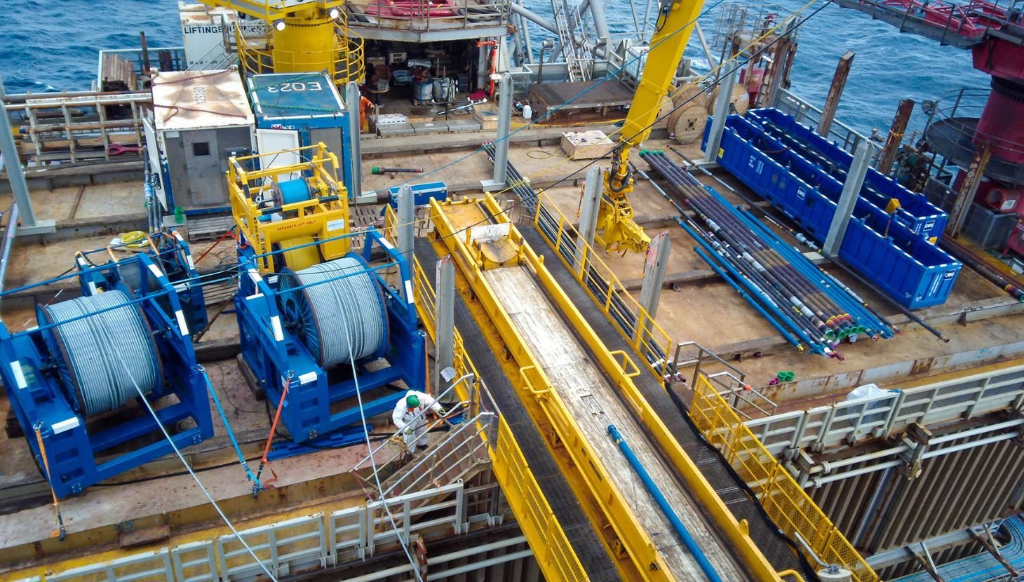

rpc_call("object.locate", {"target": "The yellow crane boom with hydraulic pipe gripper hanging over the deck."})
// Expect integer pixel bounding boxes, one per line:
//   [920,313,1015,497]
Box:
[578,0,700,243]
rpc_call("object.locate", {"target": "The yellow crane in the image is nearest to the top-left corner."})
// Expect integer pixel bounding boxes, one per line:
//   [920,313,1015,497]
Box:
[228,0,370,95]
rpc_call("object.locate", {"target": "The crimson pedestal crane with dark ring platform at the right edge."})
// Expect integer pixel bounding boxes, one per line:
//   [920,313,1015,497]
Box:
[889,3,1024,253]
